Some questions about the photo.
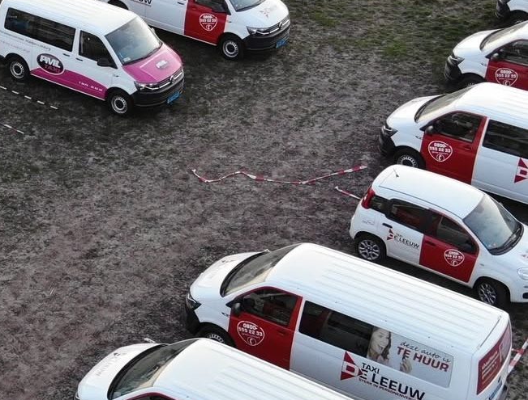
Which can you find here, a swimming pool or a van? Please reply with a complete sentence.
Of the two, only a van appears.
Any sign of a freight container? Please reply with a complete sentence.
No, there isn't any freight container down there.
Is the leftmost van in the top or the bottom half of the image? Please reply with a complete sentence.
You can find the leftmost van in the top half.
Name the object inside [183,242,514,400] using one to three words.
van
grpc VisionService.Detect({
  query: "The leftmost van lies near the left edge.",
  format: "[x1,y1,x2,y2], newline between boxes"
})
[0,0,182,119]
